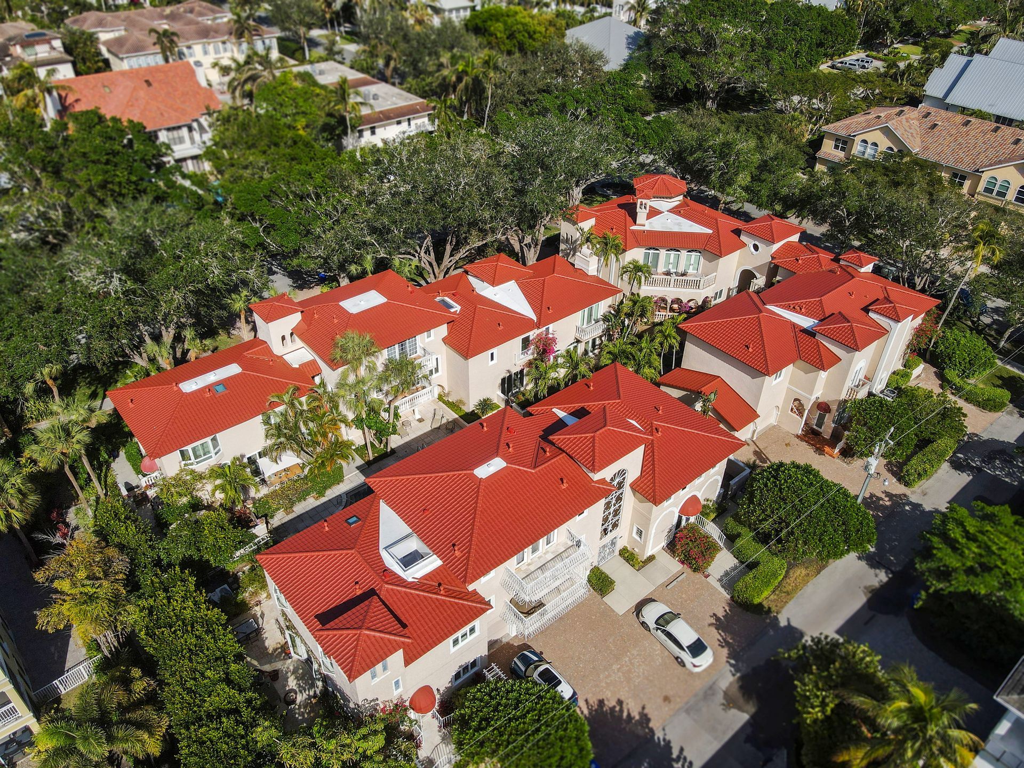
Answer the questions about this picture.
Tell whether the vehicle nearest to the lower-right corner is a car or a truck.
car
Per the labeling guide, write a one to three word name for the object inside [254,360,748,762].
house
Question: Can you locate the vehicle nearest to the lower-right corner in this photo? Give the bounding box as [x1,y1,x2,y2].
[636,598,719,672]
